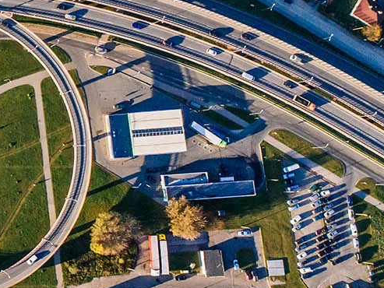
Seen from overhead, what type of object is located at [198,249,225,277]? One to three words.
shed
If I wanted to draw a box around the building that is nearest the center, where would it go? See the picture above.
[157,173,256,201]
